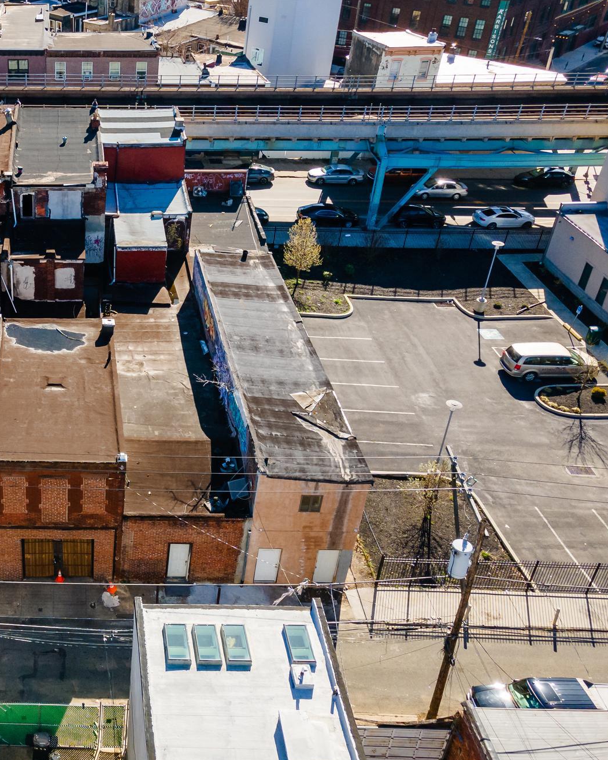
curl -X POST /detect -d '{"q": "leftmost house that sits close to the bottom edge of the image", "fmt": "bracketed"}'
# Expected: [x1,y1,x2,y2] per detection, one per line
[126,596,371,760]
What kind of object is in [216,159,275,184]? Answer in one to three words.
car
